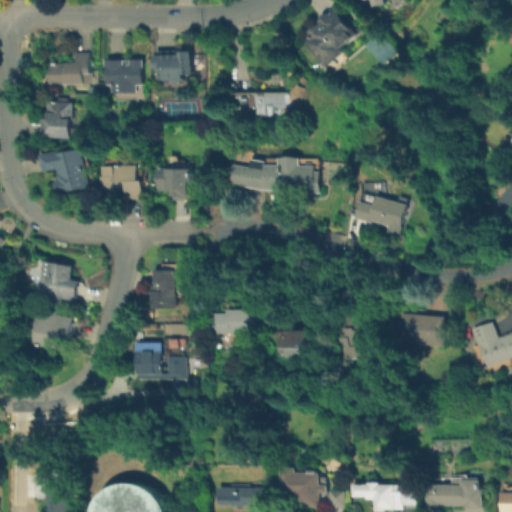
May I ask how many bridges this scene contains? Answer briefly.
0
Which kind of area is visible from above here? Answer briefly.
residential area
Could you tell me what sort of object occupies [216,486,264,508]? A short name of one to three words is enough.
house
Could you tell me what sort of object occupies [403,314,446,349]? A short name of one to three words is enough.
house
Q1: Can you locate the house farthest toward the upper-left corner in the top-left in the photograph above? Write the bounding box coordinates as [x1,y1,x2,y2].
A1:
[46,48,96,86]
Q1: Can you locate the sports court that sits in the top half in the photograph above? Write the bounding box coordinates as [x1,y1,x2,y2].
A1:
[162,100,201,118]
